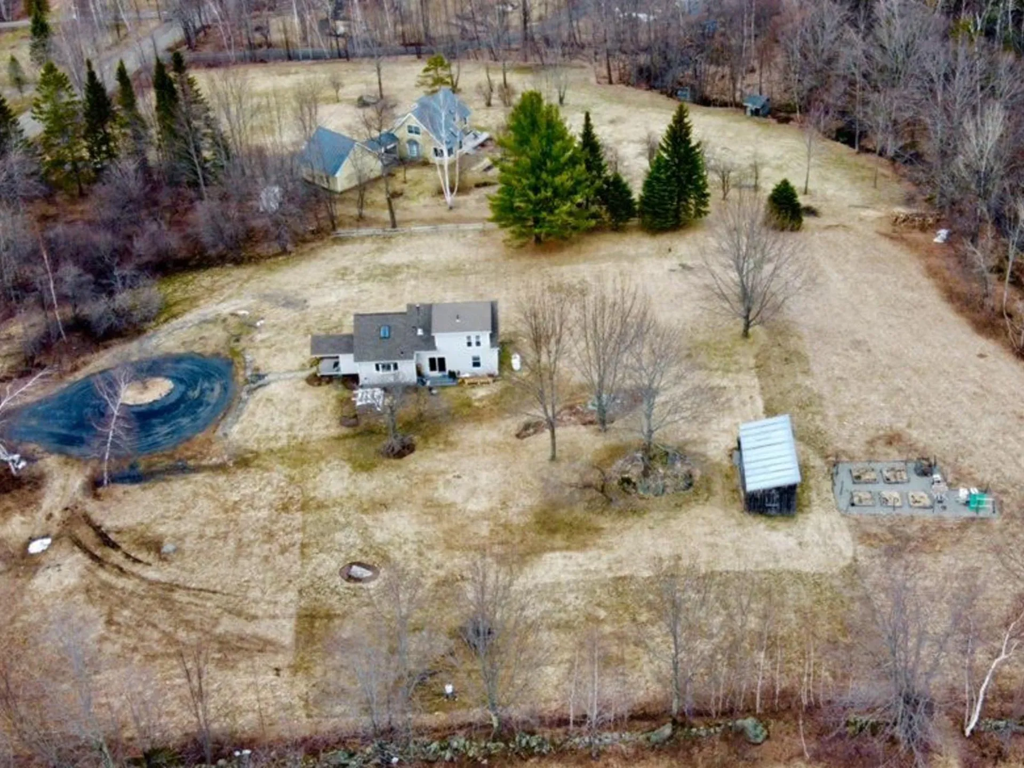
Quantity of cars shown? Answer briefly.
none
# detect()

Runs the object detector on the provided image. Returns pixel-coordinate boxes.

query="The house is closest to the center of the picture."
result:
[310,300,499,390]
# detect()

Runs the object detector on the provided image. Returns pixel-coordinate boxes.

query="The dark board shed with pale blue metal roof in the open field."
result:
[740,418,804,514]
